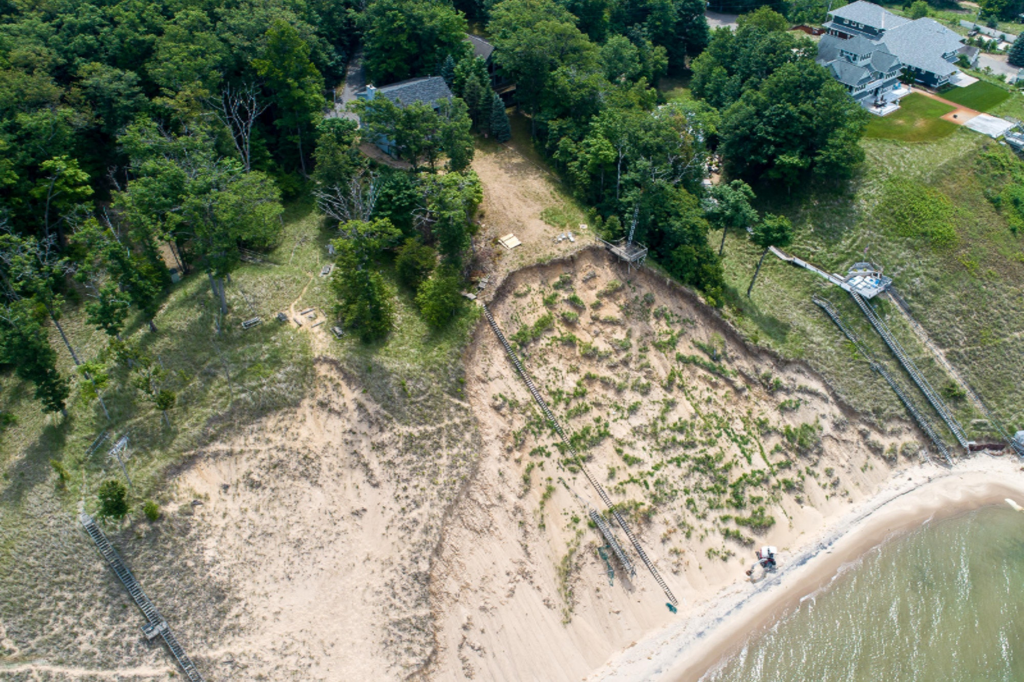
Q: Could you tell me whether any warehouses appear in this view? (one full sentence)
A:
No, there's no warehouse here.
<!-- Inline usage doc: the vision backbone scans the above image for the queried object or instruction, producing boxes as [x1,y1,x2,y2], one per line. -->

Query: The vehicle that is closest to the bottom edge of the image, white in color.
[745,545,781,580]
